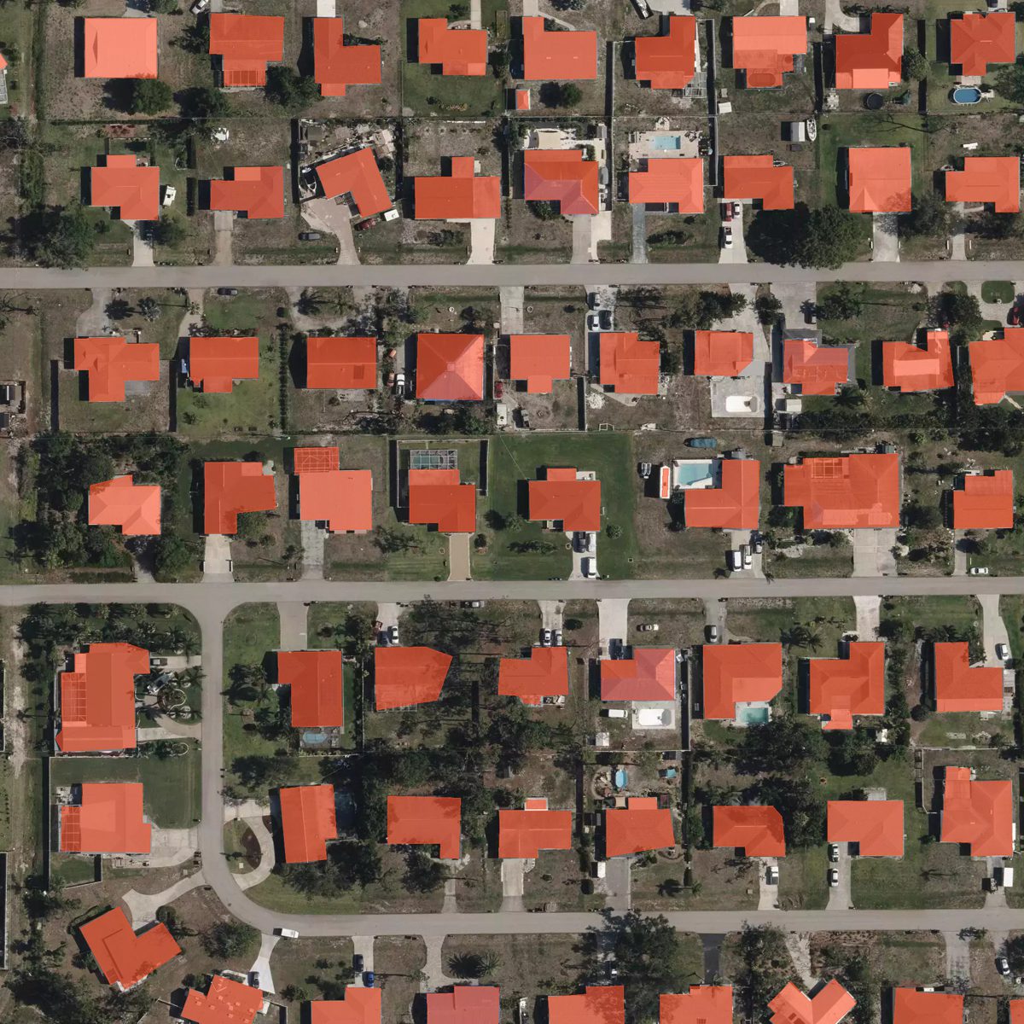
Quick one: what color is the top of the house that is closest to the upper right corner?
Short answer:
red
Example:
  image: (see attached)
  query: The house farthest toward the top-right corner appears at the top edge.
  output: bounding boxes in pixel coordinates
[952,12,1016,74]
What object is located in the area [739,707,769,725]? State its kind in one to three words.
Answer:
swimming pool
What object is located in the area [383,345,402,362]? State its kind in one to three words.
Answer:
car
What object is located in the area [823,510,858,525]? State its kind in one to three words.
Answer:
solar panel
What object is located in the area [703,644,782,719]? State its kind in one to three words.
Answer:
house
